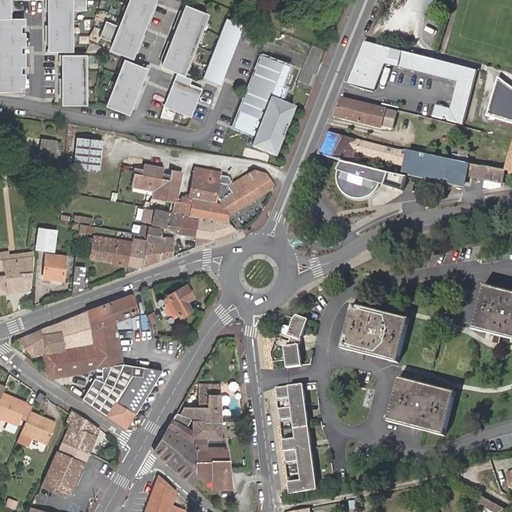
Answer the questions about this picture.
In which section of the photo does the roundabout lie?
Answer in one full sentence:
You can find the roundabout in the center area of the picture.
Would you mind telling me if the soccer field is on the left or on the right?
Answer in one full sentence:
The soccer field sits on the right side.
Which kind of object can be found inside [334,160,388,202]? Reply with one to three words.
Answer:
building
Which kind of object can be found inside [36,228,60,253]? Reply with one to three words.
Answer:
barn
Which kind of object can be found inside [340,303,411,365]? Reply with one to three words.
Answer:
building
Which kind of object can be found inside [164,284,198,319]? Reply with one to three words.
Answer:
house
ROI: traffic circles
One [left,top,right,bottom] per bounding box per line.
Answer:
[223,237,296,310]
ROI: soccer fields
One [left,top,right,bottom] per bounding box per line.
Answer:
[448,0,512,72]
